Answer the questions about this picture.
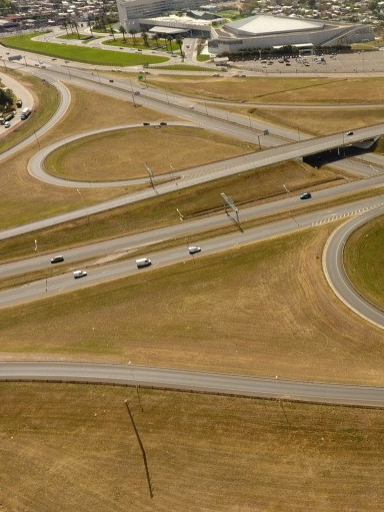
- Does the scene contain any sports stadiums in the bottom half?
No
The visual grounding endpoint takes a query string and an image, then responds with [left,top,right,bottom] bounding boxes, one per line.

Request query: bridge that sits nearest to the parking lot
[281,124,384,163]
